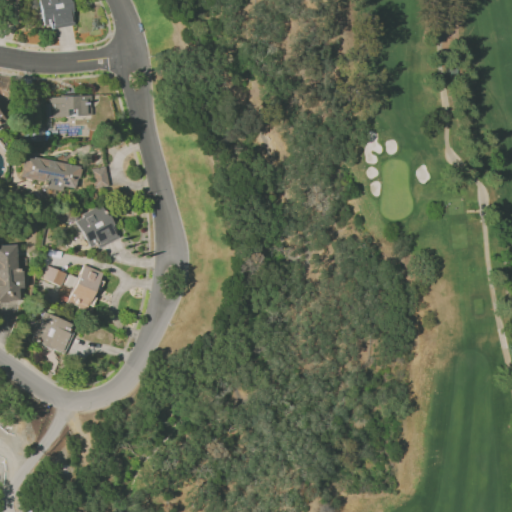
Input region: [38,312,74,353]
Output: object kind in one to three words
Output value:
house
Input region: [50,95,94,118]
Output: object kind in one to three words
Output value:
house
